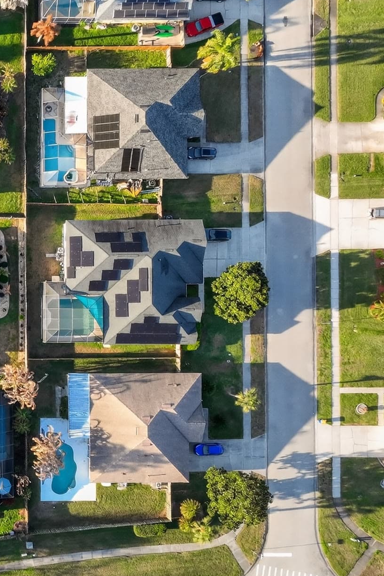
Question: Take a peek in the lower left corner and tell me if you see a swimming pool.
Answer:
Yes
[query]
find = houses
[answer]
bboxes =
[86,67,208,178]
[94,0,191,22]
[88,373,205,483]
[64,220,205,344]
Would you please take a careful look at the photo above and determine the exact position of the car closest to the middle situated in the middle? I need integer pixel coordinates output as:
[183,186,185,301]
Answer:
[204,228,231,243]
